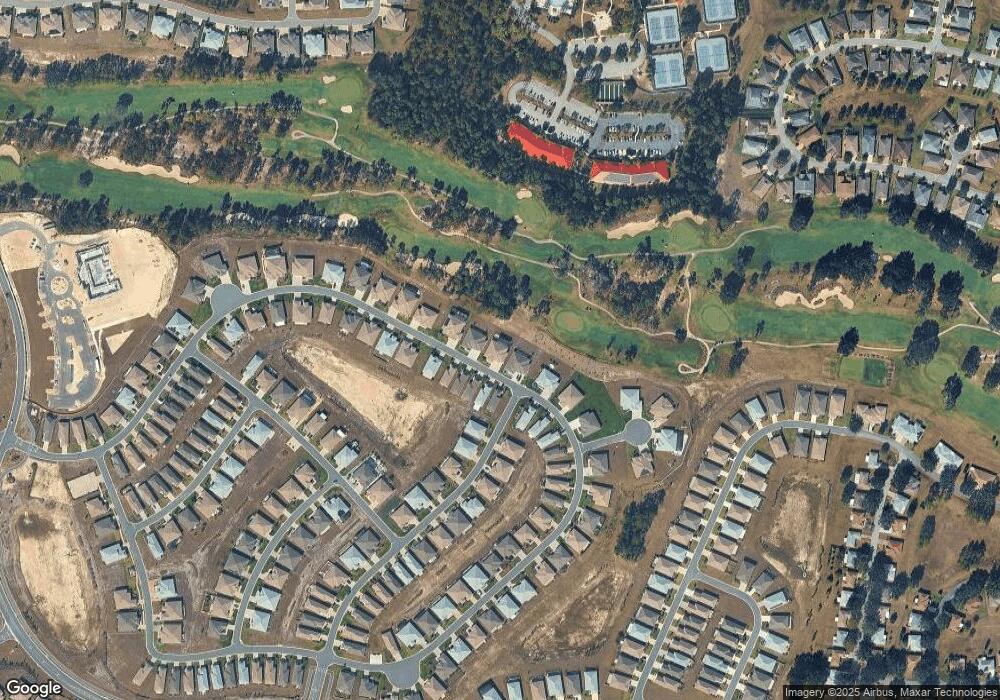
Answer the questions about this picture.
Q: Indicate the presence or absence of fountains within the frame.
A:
No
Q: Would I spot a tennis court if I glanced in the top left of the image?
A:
No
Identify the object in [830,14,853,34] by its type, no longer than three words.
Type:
house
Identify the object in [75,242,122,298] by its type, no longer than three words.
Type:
building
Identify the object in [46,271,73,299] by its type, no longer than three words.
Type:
roundabout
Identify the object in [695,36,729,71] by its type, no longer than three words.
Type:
tennis court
